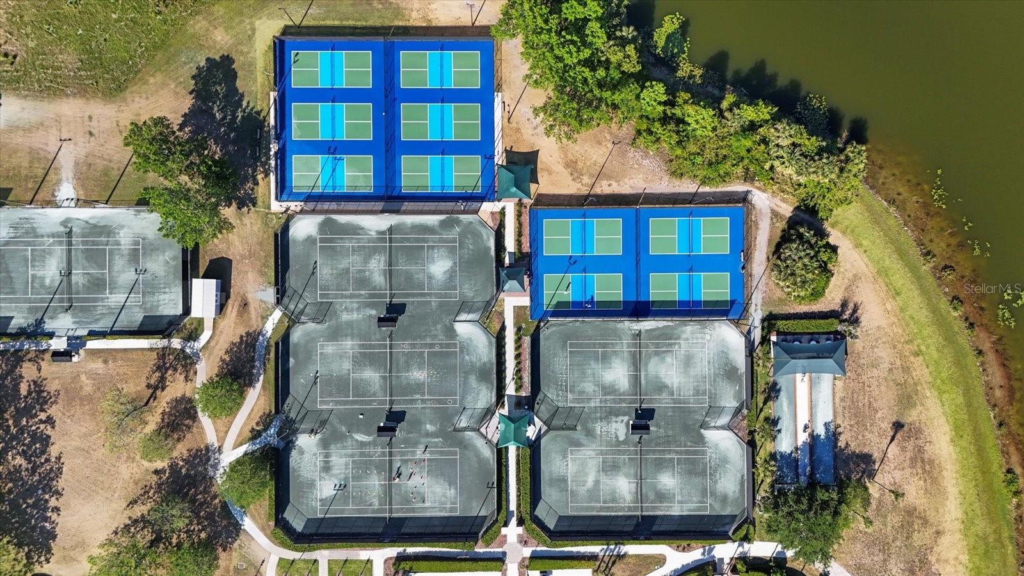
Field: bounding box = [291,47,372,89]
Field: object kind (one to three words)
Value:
sports court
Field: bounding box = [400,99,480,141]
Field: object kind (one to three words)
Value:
sports court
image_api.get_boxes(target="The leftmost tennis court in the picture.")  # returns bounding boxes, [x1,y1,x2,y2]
[0,233,141,310]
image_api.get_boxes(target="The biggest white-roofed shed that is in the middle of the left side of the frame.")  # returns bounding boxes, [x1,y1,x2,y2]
[192,279,226,318]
